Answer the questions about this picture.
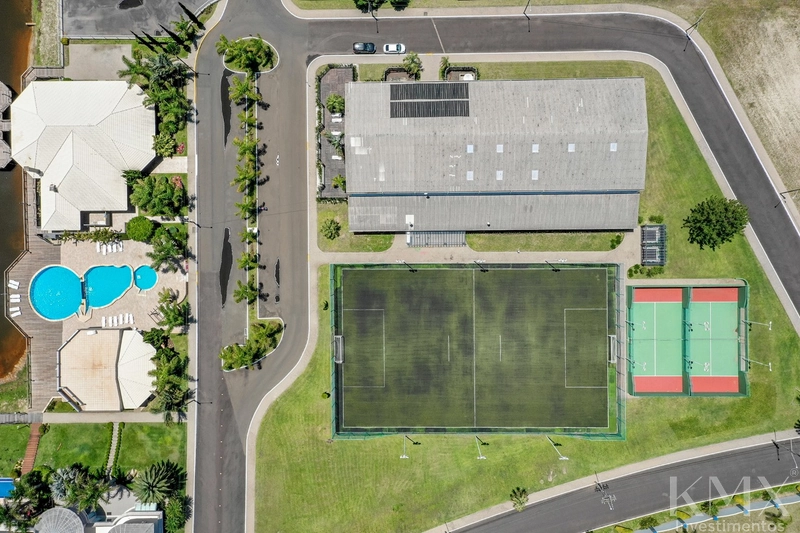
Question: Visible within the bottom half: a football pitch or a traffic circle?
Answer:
football pitch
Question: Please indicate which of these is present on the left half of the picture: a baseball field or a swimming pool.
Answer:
swimming pool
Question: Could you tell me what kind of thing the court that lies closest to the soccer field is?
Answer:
tennis court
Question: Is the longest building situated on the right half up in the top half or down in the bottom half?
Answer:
top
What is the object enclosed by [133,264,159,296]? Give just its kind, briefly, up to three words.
swimming pool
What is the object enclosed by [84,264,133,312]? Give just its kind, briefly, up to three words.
swimming pool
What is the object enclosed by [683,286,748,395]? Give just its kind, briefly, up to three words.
tennis court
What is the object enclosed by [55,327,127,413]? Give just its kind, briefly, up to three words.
building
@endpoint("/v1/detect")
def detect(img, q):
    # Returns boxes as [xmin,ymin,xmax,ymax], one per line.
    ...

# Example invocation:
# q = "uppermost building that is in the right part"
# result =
[345,77,648,232]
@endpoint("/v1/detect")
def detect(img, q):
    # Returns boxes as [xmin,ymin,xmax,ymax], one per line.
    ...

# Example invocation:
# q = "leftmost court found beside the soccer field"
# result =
[627,286,691,395]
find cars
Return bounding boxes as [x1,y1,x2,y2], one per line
[383,40,405,52]
[352,40,375,52]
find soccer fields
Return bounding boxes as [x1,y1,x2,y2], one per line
[334,263,619,435]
